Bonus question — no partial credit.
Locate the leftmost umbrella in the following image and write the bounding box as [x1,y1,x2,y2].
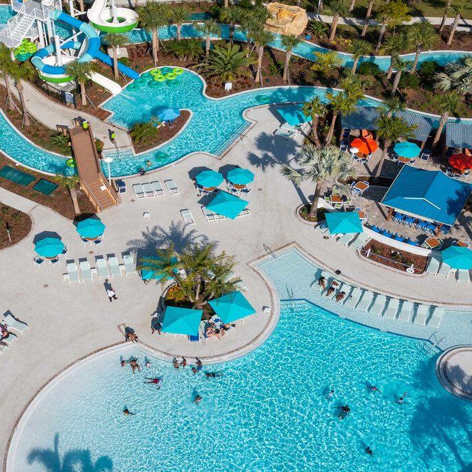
[35,238,65,267]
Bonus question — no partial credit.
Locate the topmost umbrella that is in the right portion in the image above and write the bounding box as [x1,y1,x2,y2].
[277,105,311,133]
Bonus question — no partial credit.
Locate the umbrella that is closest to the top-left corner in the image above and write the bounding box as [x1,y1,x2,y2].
[154,109,180,135]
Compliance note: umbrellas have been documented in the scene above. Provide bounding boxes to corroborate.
[209,291,255,324]
[195,170,224,199]
[393,143,420,161]
[35,238,65,267]
[76,220,105,250]
[163,307,201,337]
[206,191,247,224]
[441,243,472,272]
[154,109,180,135]
[277,105,311,133]
[226,168,254,188]
[349,139,378,156]
[326,212,363,241]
